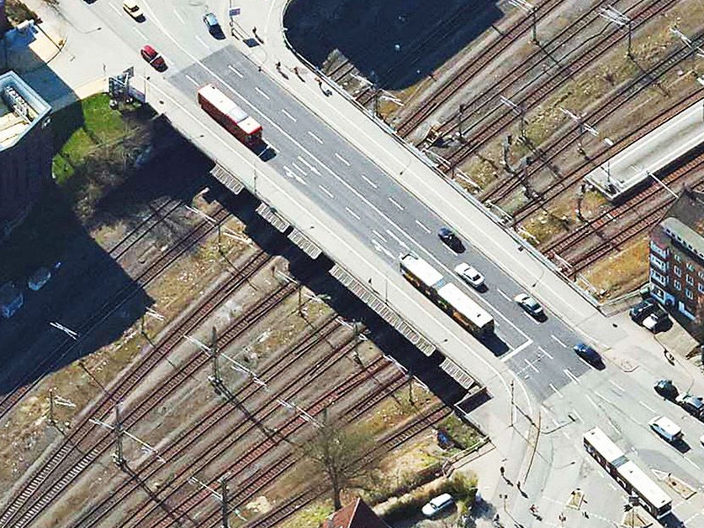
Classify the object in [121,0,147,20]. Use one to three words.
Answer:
car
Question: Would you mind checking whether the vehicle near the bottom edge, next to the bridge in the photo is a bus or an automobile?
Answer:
bus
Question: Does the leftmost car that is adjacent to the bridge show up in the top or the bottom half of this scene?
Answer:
top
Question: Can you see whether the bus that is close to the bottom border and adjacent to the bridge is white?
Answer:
Yes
